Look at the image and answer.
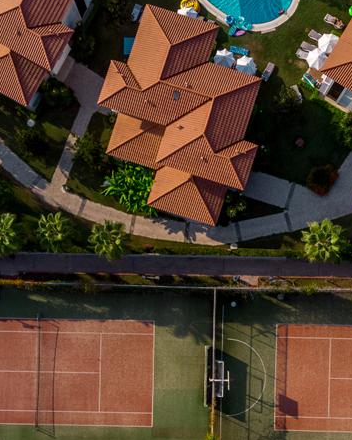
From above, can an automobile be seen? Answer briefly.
No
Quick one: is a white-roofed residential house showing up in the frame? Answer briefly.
No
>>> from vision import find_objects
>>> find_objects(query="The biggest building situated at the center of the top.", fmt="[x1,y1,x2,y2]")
[97,2,263,226]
